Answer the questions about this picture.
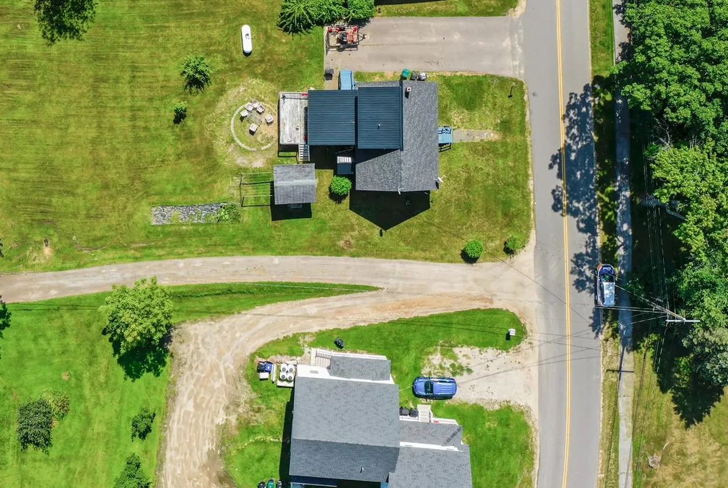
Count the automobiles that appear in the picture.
two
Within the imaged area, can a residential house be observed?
Yes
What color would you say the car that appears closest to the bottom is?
blue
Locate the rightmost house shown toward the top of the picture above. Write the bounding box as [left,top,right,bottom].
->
[307,80,439,193]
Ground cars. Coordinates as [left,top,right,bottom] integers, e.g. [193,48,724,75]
[411,377,457,401]
[593,263,618,308]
